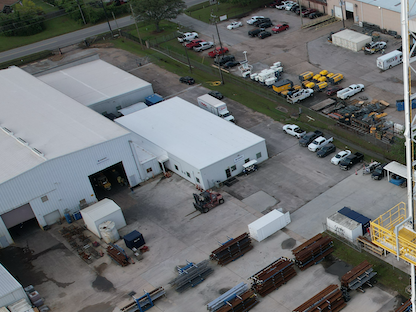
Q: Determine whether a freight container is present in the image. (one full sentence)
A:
Yes, a freight container appears in the view.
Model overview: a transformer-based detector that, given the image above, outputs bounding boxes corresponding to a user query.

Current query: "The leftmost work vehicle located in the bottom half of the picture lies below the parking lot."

[188,191,221,213]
